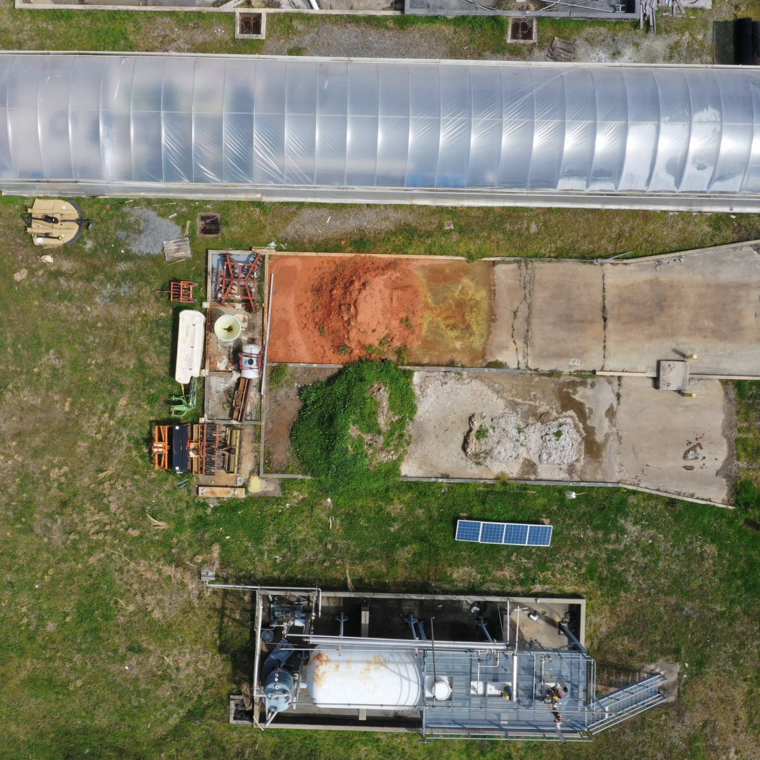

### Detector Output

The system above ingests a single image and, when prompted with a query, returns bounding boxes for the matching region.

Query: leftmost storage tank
[177,310,206,384]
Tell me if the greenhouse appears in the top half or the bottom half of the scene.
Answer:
top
